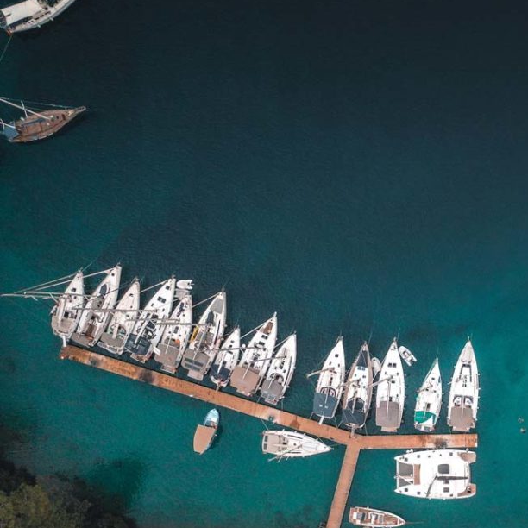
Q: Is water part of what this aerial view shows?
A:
Yes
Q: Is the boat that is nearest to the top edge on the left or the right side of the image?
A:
left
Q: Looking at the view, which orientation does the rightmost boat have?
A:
vertically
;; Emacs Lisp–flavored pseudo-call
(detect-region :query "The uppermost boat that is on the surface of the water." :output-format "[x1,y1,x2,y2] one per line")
[0,0,81,60]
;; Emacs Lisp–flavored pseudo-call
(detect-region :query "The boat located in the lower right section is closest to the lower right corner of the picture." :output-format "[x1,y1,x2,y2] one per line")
[393,446,477,501]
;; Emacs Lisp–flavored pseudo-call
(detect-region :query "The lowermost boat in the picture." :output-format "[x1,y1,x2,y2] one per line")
[345,506,406,528]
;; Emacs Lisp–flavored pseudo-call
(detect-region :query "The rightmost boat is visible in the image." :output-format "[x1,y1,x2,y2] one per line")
[445,330,482,432]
